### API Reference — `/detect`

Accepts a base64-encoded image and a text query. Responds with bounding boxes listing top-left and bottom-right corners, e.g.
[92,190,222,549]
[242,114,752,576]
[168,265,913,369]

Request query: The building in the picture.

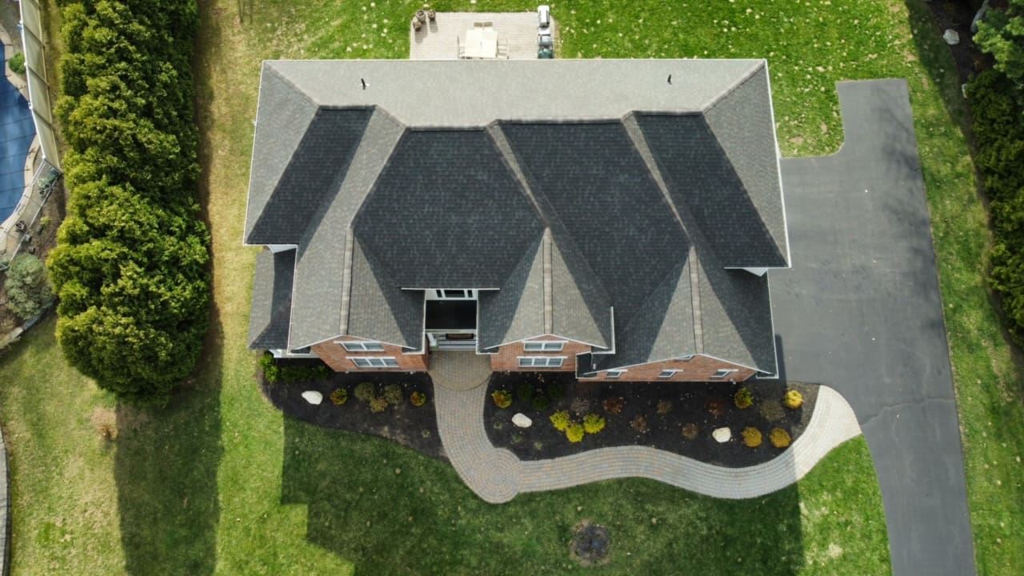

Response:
[242,58,792,383]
